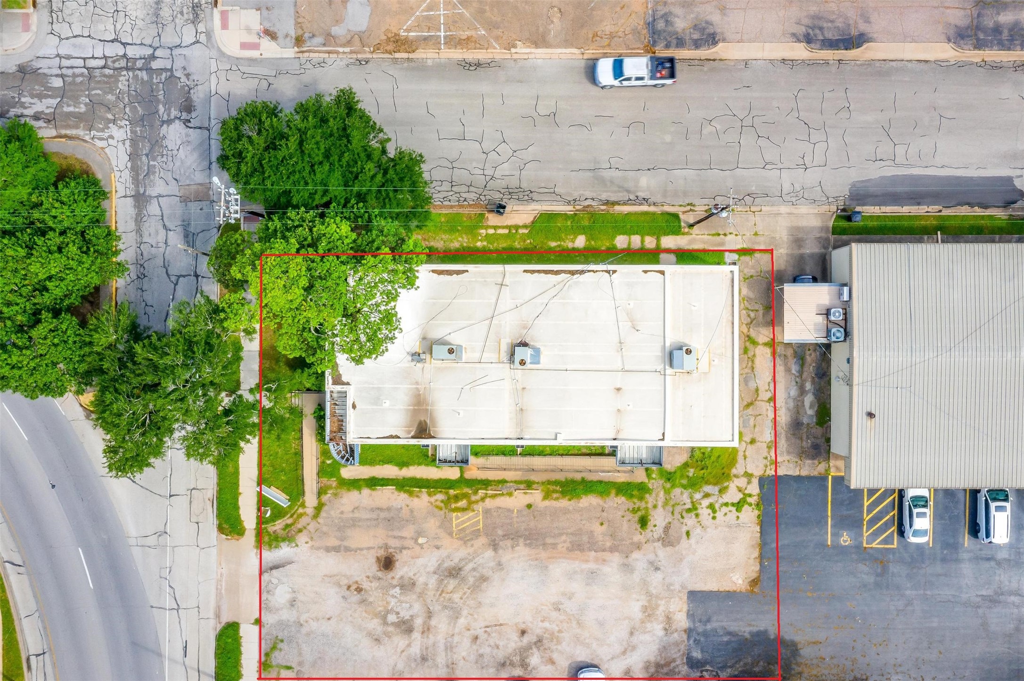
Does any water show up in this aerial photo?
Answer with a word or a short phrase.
No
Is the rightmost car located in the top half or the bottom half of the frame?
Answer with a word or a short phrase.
bottom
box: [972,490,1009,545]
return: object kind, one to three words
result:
car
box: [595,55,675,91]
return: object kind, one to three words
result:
truck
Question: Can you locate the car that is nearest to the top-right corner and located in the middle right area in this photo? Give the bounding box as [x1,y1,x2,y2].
[789,268,820,284]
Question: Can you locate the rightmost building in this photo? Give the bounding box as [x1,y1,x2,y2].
[833,235,1024,490]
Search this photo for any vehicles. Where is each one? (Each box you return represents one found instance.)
[900,490,934,543]
[595,55,675,91]
[789,268,820,284]
[579,665,605,681]
[972,490,1009,545]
